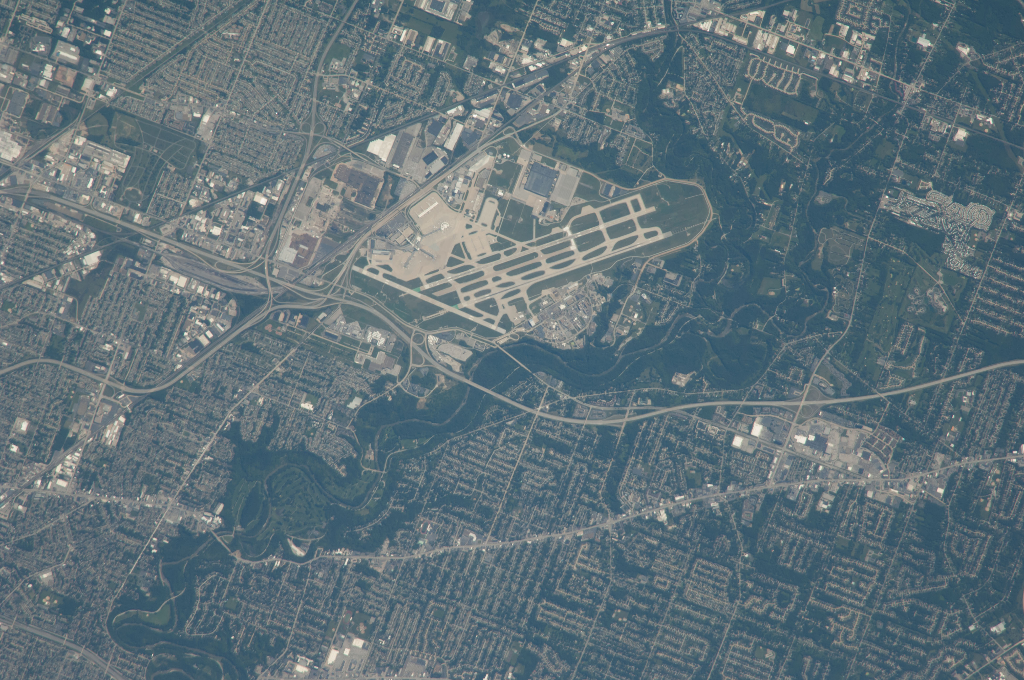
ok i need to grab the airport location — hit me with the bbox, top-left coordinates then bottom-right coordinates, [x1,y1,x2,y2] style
[336,150,731,353]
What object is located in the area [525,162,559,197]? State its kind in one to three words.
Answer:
building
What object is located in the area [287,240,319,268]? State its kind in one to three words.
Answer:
building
